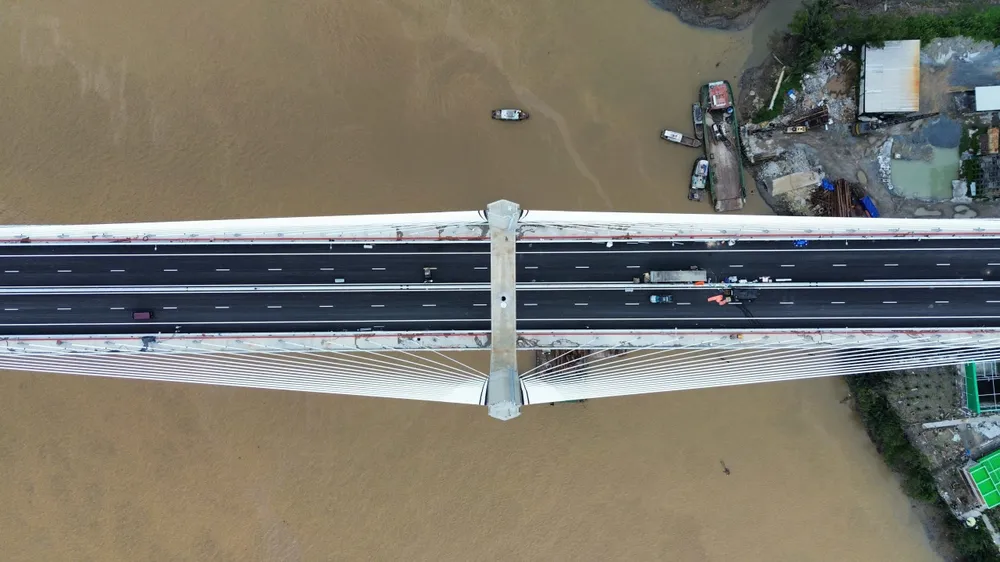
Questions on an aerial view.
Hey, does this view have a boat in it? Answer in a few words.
Yes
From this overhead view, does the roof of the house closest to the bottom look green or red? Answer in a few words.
green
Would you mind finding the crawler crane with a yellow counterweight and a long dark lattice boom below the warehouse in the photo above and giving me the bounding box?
[853,109,951,137]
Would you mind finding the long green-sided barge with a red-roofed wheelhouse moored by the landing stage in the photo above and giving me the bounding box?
[700,79,747,212]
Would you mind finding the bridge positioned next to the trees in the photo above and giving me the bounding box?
[0,190,1000,421]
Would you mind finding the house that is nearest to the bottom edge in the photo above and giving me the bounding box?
[954,448,1000,510]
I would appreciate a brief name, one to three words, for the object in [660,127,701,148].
boat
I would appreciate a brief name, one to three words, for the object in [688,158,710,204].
boat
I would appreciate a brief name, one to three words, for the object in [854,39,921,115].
building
